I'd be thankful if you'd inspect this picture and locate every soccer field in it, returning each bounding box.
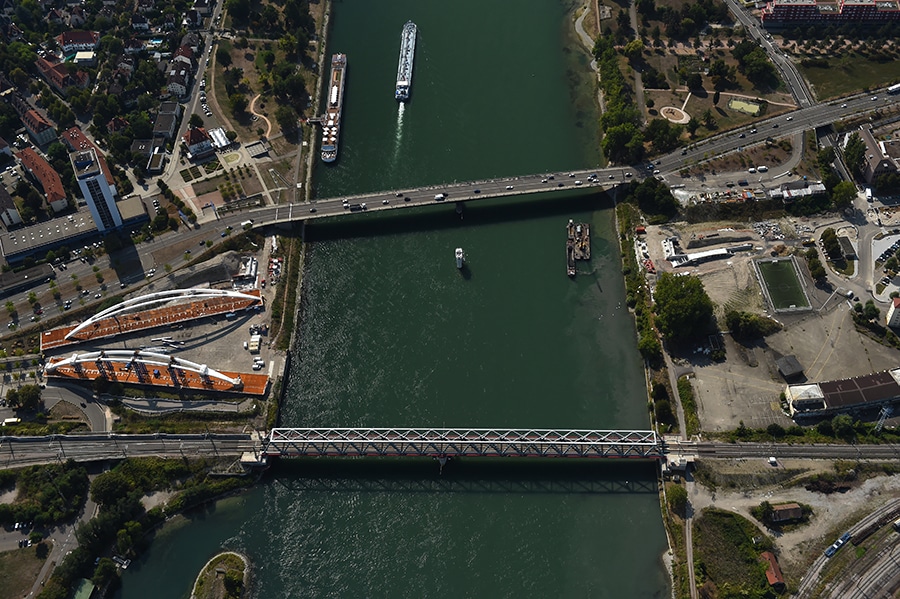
[753,255,811,313]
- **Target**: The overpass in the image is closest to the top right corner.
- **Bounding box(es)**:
[792,104,846,134]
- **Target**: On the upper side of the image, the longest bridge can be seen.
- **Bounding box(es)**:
[244,160,659,230]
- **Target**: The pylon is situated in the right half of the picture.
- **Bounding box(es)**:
[874,409,900,435]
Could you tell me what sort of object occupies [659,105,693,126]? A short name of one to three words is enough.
playground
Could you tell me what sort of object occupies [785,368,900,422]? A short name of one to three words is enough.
building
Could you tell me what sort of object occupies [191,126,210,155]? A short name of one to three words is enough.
house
